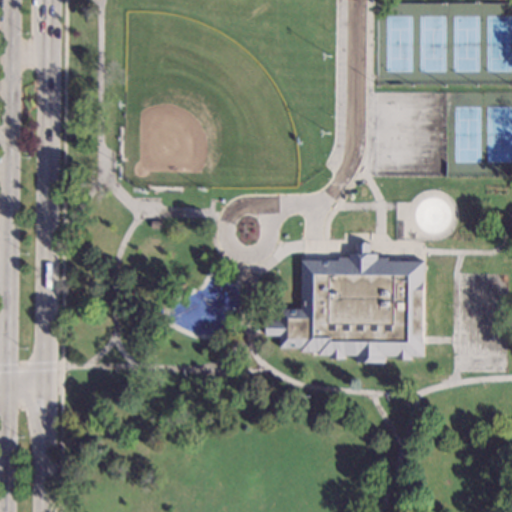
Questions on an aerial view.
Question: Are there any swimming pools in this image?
Yes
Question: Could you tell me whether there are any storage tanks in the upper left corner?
No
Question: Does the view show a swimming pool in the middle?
Yes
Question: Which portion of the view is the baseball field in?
top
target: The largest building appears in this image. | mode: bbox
[266,242,424,365]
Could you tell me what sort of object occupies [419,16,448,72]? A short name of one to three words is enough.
tennis court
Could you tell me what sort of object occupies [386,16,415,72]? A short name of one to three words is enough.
tennis court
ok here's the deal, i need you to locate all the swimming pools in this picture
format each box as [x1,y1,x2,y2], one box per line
[162,272,242,340]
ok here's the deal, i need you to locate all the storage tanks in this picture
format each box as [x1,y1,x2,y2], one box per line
[413,190,459,241]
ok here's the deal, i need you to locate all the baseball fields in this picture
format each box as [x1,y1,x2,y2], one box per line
[126,11,299,188]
